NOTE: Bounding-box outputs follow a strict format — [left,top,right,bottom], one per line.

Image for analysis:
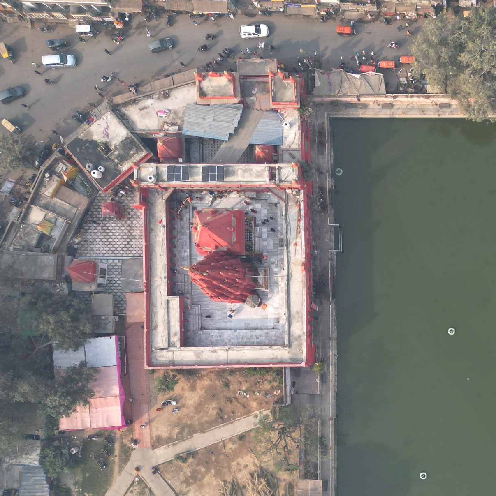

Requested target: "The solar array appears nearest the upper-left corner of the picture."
[166,165,189,182]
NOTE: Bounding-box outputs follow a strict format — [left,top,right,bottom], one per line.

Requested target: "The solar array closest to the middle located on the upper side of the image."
[201,165,224,182]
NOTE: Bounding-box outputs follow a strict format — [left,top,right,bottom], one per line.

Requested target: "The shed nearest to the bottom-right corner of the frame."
[297,477,325,496]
